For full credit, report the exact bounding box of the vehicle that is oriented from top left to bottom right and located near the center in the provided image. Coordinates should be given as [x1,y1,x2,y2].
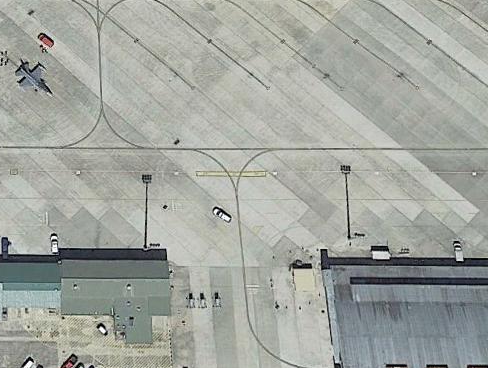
[212,208,231,223]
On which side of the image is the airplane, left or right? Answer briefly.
left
